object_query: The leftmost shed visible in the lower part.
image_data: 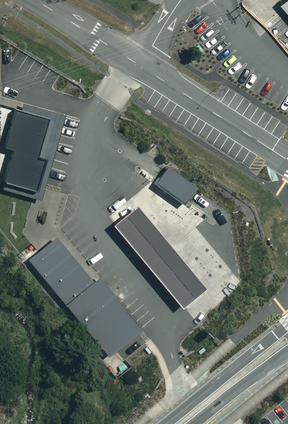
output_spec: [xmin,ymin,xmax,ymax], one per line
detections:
[28,238,95,305]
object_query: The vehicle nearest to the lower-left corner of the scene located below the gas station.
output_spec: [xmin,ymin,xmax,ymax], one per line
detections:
[125,342,140,355]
